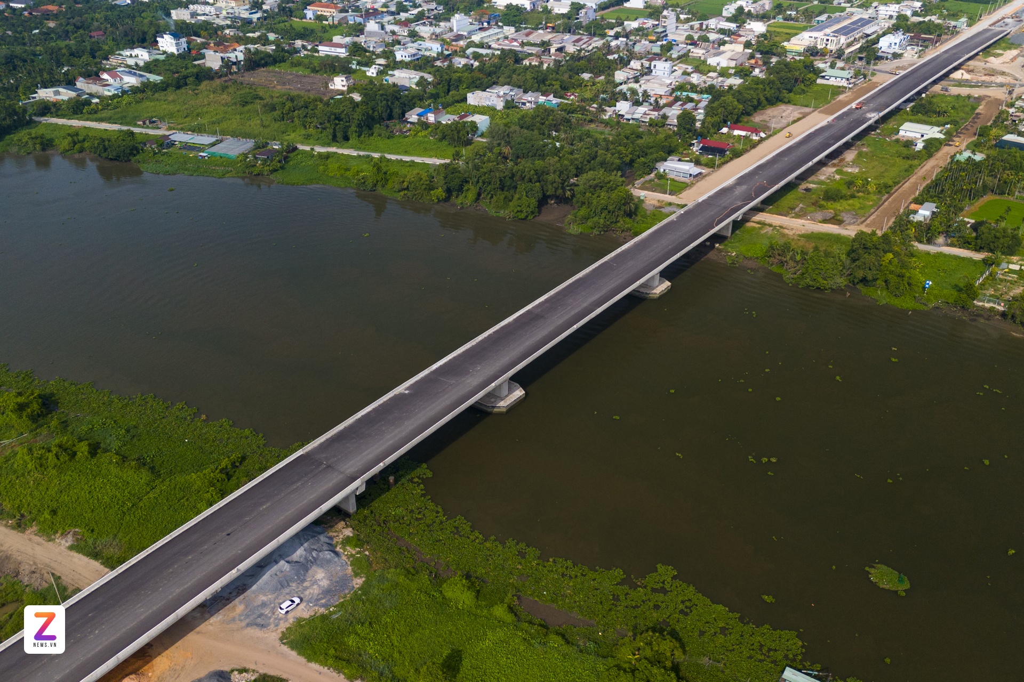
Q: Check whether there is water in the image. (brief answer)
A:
Yes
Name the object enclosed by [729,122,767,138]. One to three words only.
house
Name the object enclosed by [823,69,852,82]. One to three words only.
house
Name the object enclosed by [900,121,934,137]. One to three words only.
building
